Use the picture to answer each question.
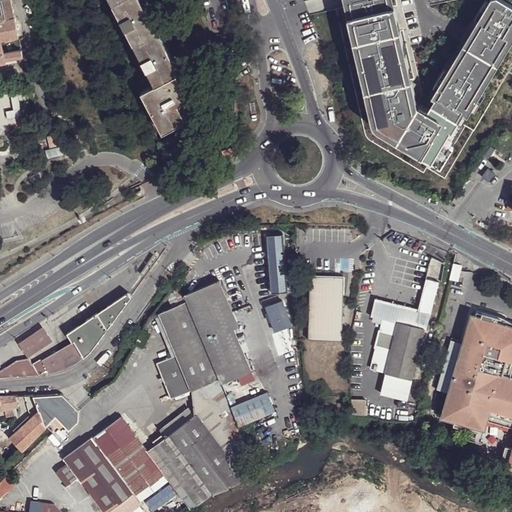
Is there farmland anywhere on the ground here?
No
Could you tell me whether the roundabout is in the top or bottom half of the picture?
top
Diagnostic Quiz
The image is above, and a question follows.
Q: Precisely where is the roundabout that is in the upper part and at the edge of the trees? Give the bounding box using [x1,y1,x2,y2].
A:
[249,116,342,207]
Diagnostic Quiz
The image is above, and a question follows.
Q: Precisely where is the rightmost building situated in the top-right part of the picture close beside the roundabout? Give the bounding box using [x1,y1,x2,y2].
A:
[341,0,512,180]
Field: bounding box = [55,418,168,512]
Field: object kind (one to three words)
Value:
building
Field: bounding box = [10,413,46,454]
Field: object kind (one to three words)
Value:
house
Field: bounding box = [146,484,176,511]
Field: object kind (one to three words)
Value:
shed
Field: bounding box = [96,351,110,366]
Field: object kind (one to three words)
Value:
vehicle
